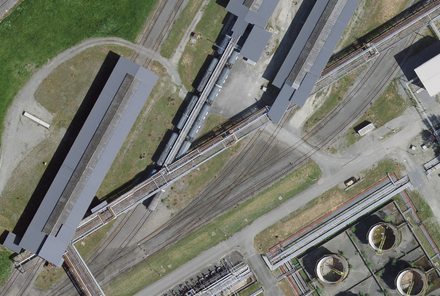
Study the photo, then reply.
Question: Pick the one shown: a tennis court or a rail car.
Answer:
rail car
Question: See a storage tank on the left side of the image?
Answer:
No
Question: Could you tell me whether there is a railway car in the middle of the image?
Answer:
Yes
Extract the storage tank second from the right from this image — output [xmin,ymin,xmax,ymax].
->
[366,222,398,254]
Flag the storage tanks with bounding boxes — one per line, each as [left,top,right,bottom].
[366,222,398,254]
[396,266,428,296]
[316,254,348,285]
